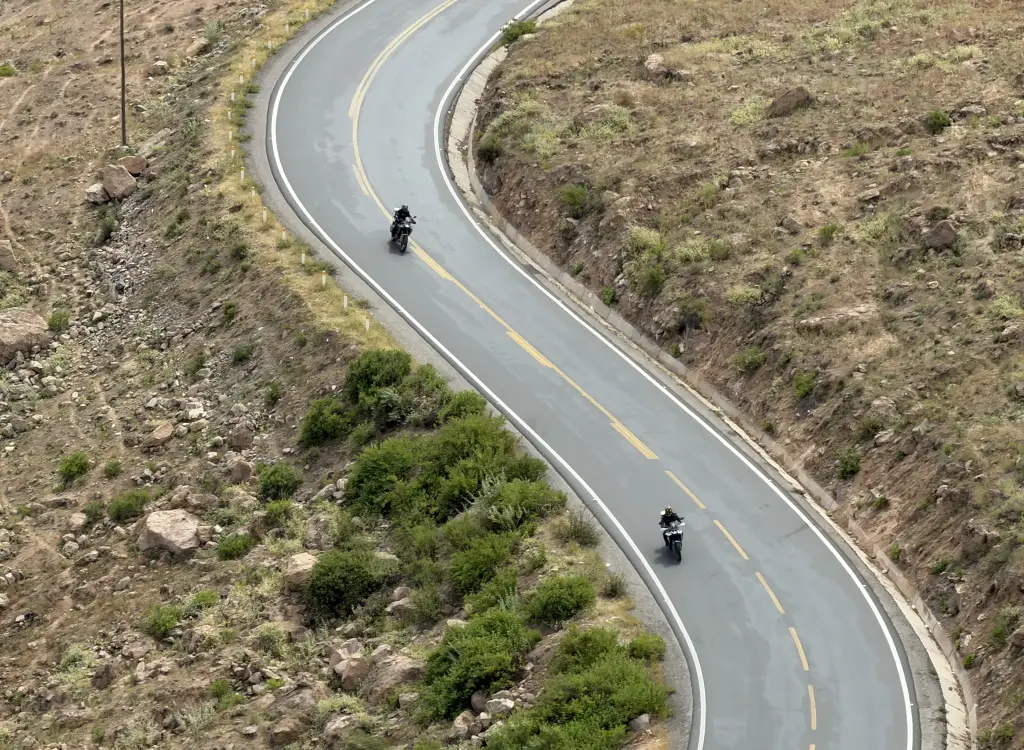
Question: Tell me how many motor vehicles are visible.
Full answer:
Looking from above, you can make out 2 motor vehicles.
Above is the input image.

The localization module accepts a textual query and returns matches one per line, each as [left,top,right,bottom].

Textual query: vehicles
[390,216,418,253]
[658,521,687,563]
